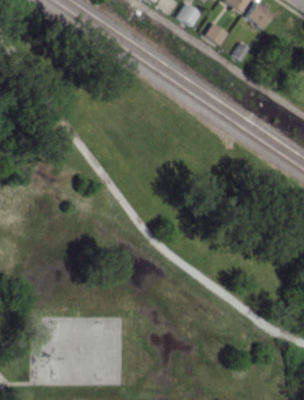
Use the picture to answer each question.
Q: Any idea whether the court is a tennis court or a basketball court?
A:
basketball court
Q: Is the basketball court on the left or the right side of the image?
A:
left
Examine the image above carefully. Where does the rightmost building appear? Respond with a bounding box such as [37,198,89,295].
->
[244,3,274,33]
